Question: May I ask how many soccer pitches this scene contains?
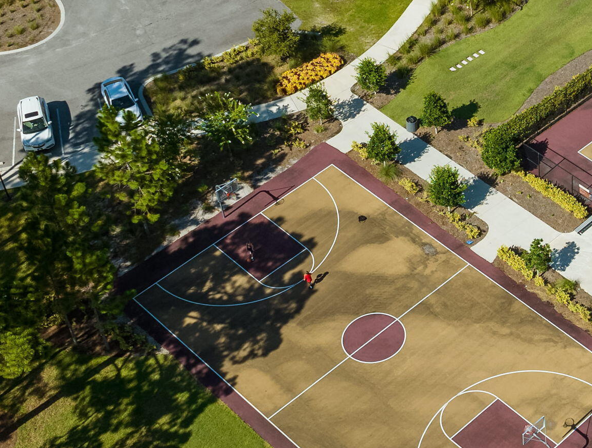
0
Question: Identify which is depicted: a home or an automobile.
automobile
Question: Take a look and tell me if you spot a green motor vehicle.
No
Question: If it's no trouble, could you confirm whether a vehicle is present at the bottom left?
No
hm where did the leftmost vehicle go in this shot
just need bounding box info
[13,91,53,150]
